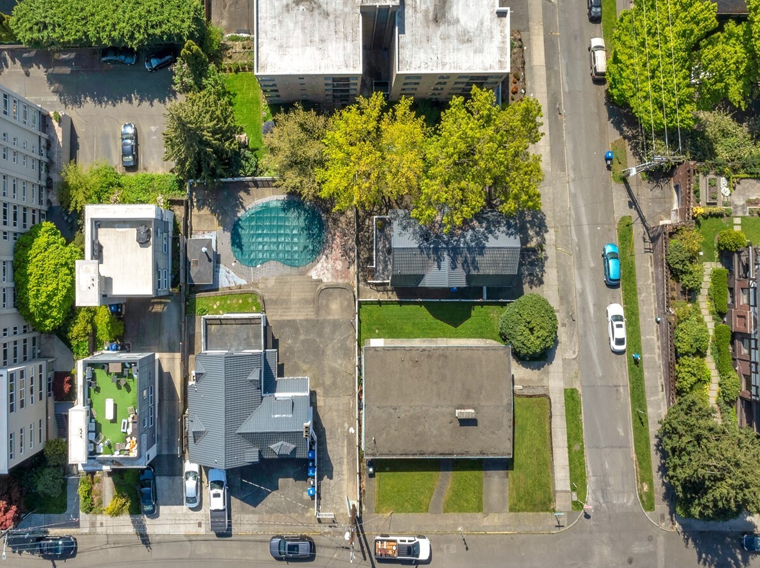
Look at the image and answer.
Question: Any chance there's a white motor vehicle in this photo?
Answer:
Yes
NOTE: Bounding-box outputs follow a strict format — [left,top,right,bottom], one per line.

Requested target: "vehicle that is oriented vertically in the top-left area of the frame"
[118,120,141,171]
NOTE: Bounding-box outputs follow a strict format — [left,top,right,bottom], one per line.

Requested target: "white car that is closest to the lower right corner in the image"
[604,302,628,353]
